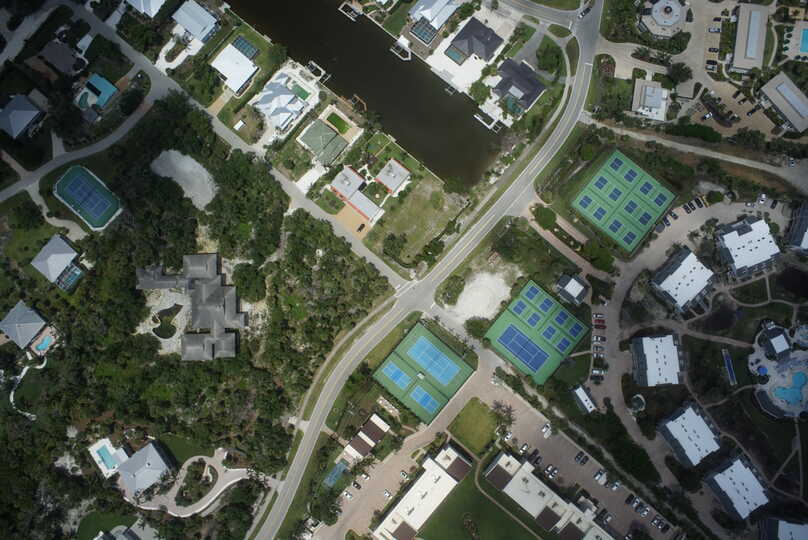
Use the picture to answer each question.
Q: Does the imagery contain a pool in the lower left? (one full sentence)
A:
Yes, a pool can be seen in the lower left.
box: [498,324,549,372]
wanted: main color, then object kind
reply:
blue tennis court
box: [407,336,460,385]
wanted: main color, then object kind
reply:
blue tennis court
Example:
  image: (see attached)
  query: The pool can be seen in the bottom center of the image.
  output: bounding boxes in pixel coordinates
[324,462,348,488]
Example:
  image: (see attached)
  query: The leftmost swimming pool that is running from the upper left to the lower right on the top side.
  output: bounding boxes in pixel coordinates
[288,81,311,99]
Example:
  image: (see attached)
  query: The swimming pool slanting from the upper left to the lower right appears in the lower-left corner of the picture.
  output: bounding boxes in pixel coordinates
[96,444,119,471]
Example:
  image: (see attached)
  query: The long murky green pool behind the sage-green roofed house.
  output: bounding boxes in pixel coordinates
[326,111,354,136]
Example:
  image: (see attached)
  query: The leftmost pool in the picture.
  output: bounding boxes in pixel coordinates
[35,335,53,351]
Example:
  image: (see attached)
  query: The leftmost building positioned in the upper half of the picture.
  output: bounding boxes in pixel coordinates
[0,91,44,139]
